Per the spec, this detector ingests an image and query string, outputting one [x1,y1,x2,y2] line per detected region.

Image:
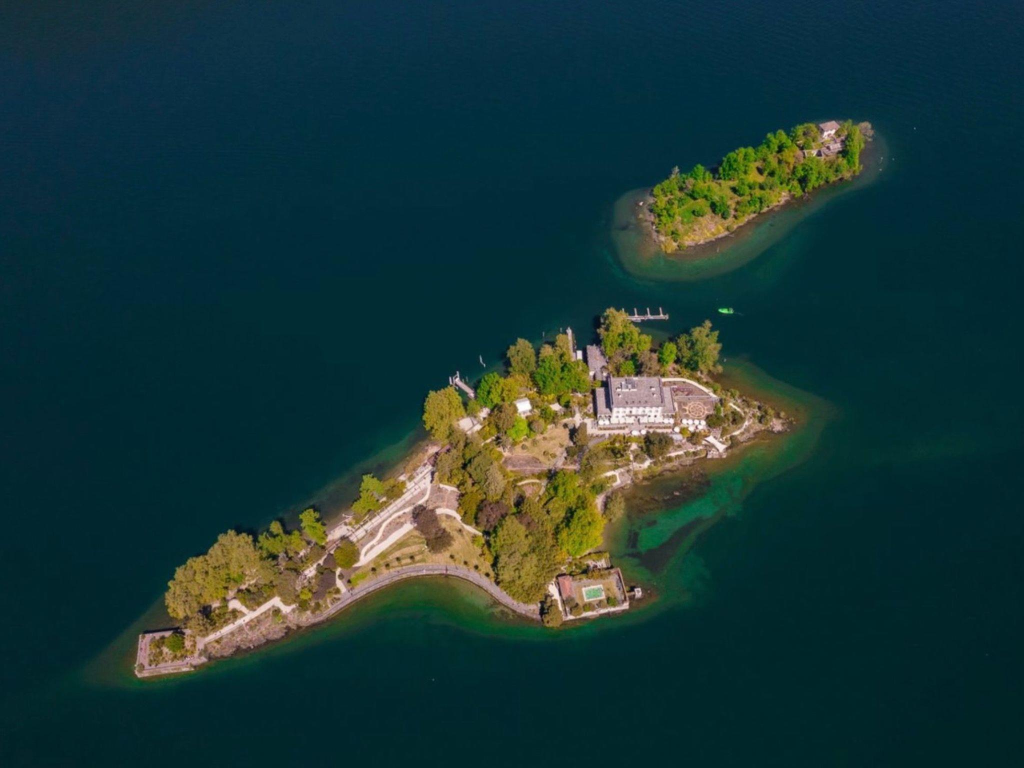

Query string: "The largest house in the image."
[596,375,676,423]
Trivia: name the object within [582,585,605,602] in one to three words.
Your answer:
swimming pool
